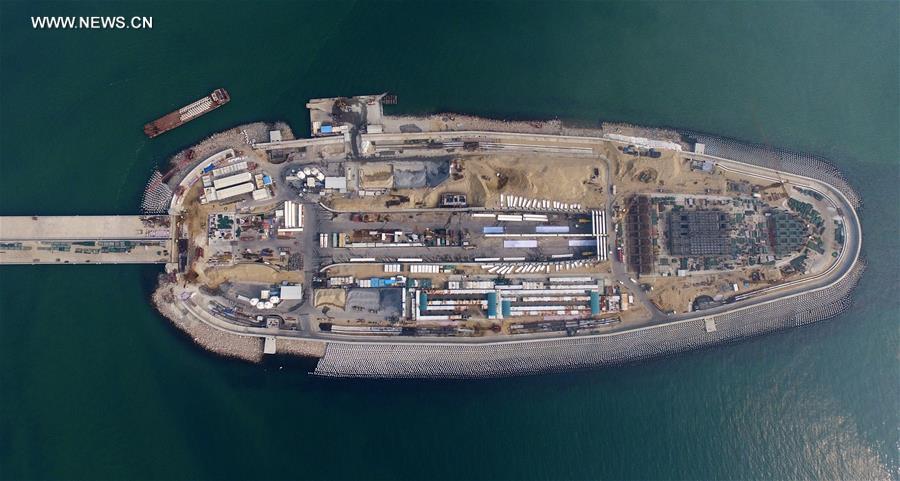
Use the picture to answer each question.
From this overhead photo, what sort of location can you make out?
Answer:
port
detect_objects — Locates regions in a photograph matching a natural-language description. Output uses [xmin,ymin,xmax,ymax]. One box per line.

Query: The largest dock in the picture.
[305,95,383,139]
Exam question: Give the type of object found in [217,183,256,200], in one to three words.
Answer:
building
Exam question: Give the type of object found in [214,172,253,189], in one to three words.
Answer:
building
